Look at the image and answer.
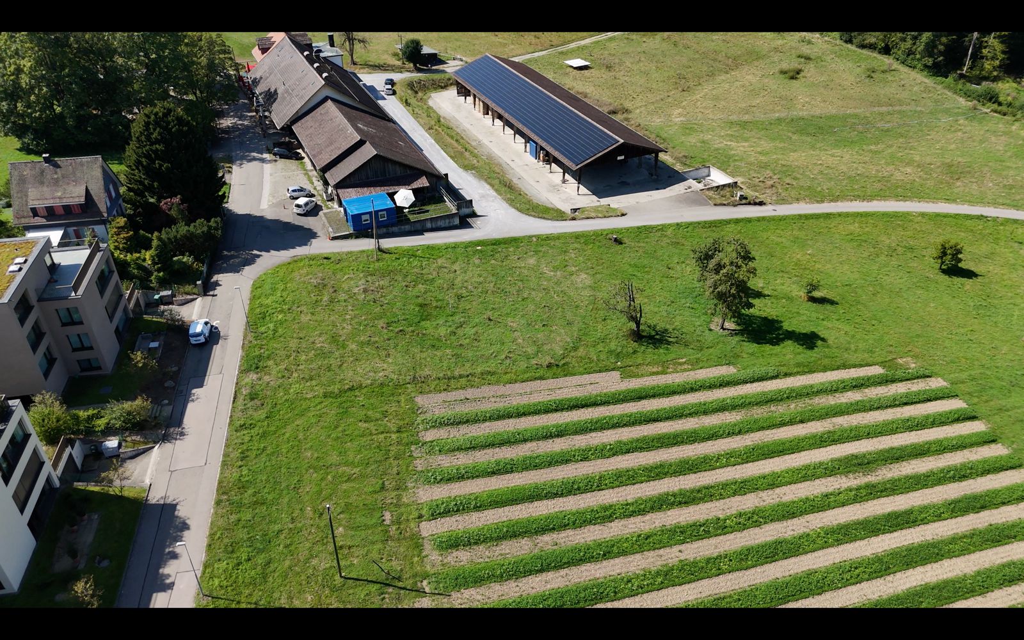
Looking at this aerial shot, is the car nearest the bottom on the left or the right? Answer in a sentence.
The car nearest the bottom appears in the left half of the scene.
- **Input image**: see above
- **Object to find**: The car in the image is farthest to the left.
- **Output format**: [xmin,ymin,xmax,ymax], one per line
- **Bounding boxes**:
[189,316,213,341]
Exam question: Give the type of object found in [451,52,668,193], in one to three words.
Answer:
building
